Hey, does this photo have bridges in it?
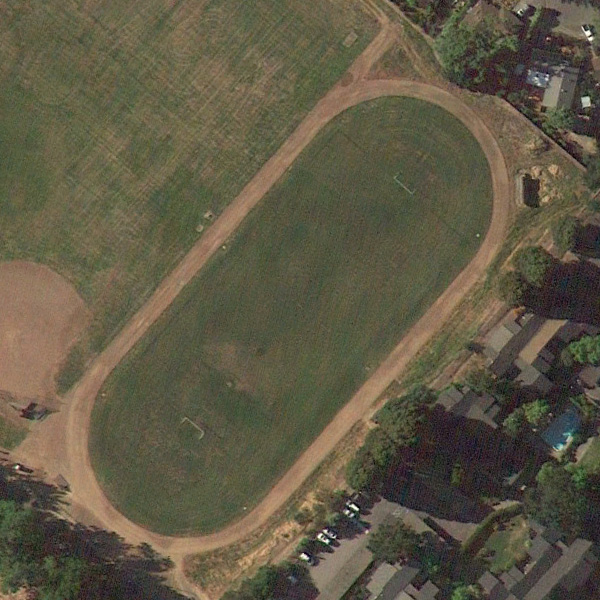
No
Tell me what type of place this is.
sports ground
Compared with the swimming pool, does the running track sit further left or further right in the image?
to its left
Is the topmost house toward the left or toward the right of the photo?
right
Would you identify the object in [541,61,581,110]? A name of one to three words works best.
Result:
house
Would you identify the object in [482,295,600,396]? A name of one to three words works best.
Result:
house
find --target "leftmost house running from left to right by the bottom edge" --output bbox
[357,559,451,600]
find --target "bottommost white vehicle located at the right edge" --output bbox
[581,23,595,42]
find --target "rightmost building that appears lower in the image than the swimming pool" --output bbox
[469,516,600,600]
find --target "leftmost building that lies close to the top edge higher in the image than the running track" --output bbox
[466,0,529,40]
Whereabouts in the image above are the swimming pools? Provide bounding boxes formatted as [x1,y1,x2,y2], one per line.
[541,408,583,452]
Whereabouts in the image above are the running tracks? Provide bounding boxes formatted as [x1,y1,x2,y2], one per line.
[65,77,510,555]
